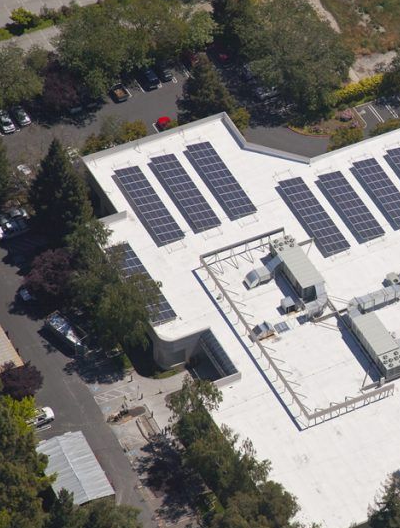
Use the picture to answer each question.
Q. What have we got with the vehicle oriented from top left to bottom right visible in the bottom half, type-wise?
truck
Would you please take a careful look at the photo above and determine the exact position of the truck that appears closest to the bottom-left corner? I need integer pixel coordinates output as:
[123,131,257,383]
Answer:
[14,410,55,433]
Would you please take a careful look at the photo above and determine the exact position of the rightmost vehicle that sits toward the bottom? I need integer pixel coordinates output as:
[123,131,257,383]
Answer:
[42,302,90,356]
